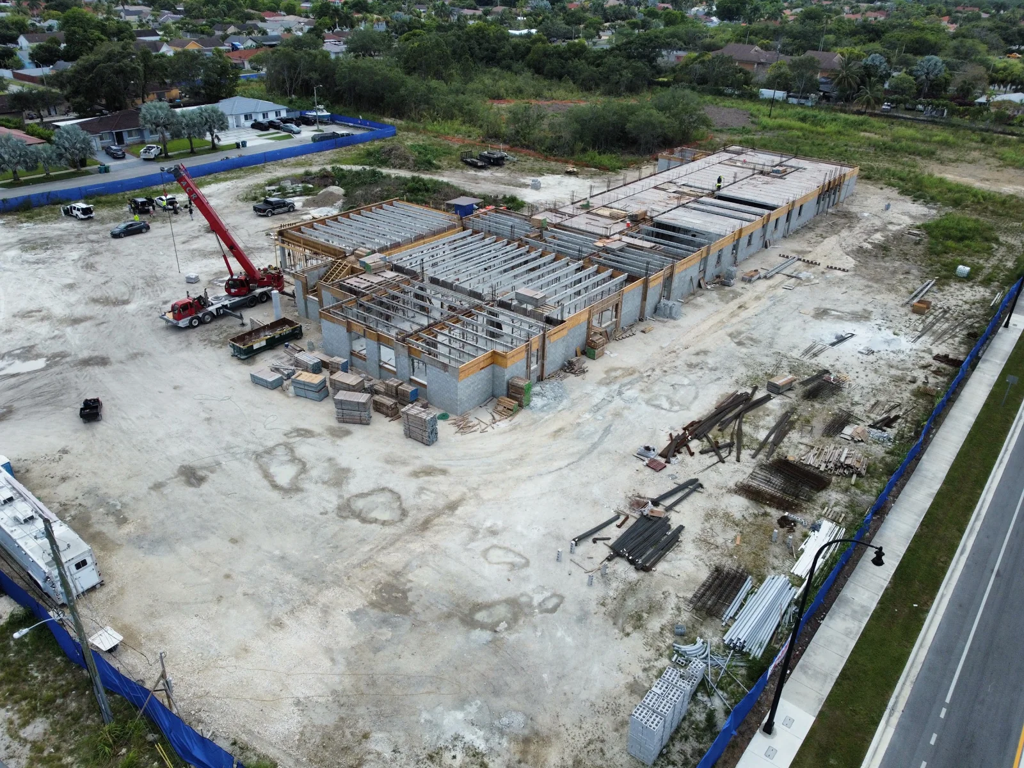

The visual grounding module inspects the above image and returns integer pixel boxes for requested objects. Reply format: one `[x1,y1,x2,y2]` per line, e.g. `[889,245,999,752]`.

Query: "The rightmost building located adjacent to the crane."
[274,143,860,416]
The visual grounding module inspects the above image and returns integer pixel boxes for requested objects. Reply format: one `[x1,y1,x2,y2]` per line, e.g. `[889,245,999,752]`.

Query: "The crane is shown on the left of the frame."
[150,155,299,327]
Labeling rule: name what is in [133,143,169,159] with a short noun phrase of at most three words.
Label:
vehicle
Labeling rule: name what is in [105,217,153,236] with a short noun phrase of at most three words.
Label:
car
